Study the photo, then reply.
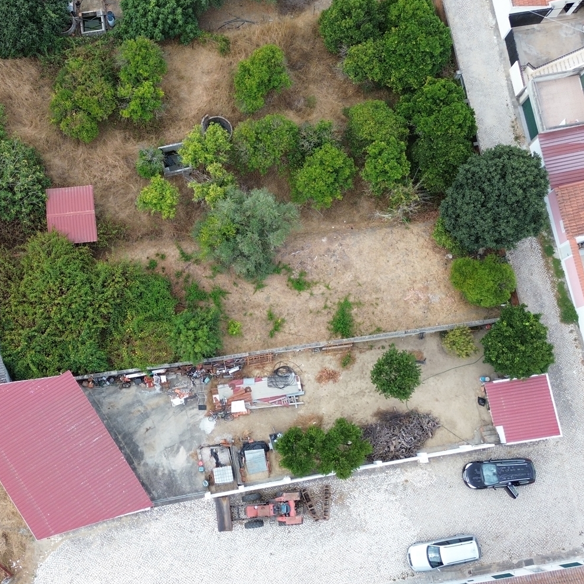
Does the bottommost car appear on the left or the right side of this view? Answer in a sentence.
It is on the right.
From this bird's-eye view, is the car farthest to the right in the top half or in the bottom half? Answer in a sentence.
It is in the bottom half that the car farthest to the right appears.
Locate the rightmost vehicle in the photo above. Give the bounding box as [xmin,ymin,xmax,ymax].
[461,457,538,500]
